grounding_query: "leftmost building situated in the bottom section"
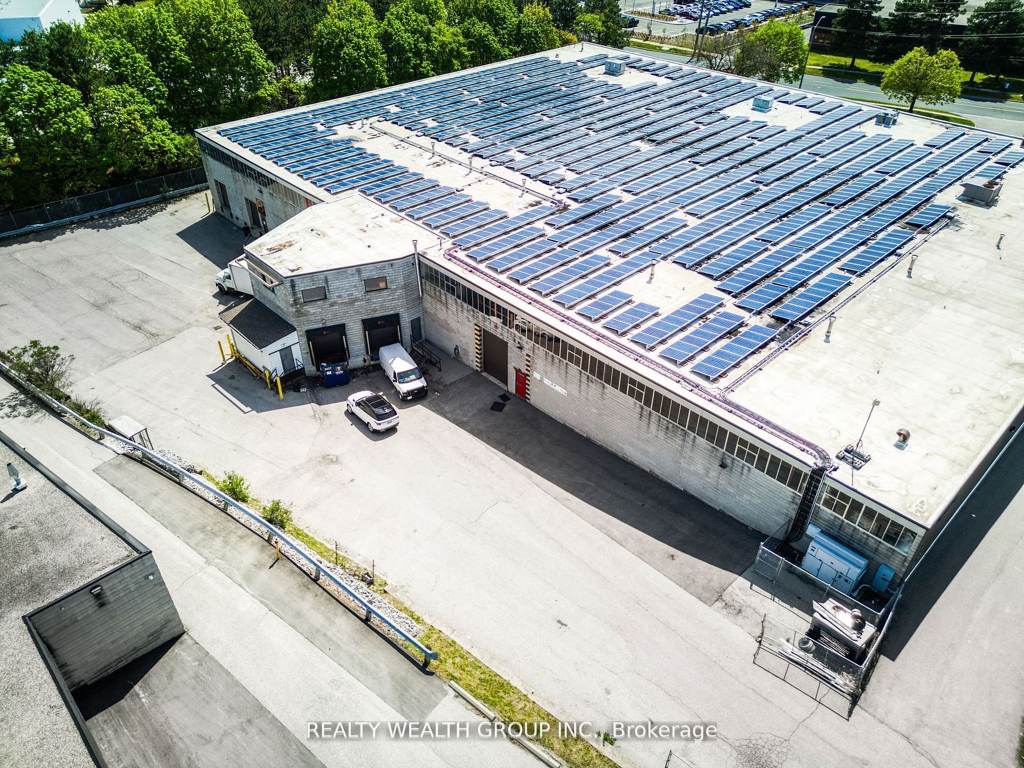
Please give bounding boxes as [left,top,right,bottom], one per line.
[0,428,186,768]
